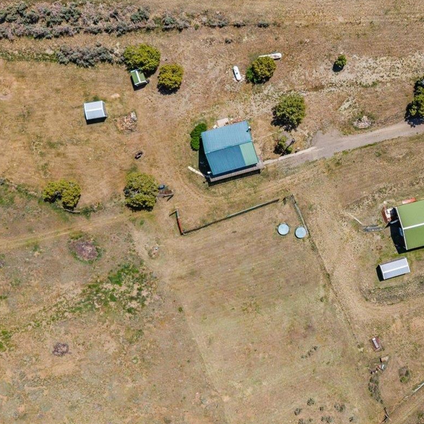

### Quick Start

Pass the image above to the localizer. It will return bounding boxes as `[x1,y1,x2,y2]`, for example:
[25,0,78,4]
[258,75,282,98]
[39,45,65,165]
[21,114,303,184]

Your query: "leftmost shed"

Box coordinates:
[85,101,108,120]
